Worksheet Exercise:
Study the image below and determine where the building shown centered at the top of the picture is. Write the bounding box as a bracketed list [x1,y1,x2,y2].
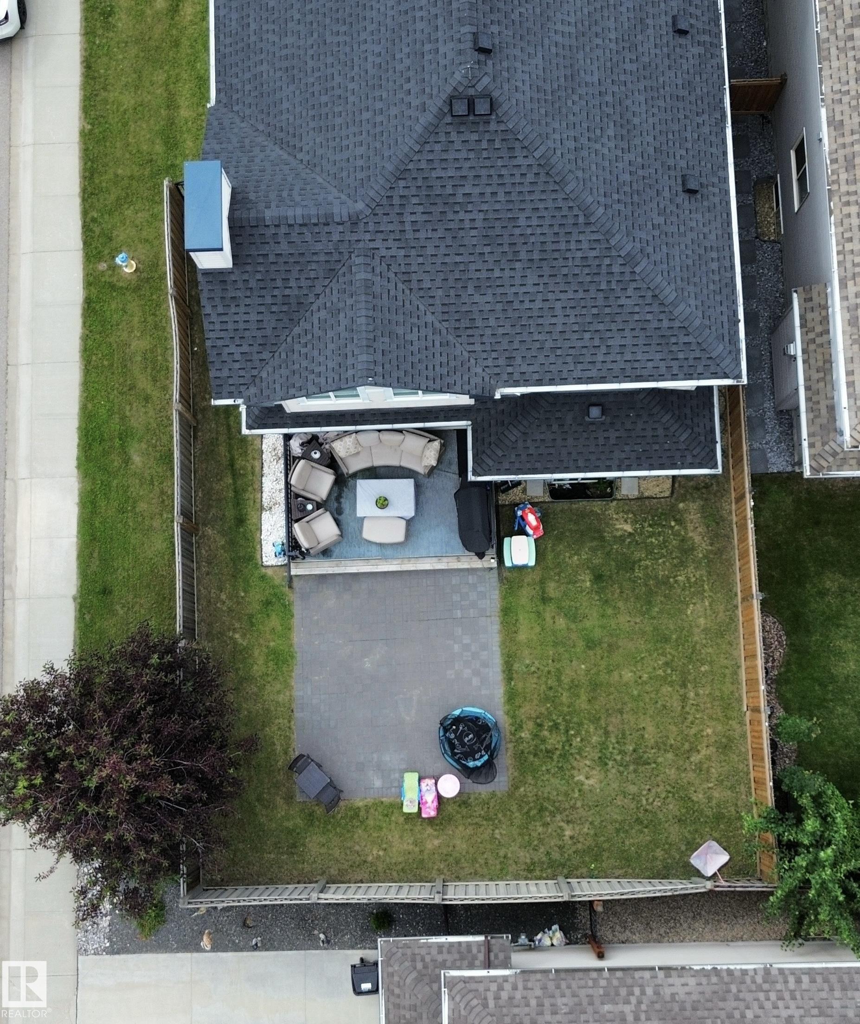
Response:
[184,0,748,480]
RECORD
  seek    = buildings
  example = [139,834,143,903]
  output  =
[378,928,860,1024]
[764,0,860,478]
[184,0,748,480]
